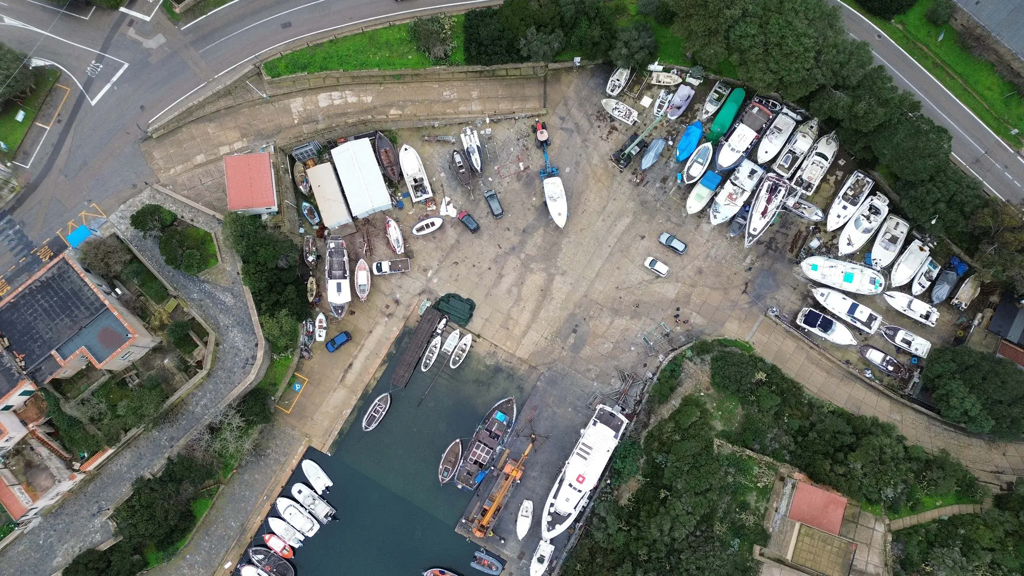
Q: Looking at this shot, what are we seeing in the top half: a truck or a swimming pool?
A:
truck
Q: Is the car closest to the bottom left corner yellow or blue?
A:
blue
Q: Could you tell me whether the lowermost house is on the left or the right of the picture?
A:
right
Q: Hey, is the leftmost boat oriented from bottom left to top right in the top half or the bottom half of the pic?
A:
bottom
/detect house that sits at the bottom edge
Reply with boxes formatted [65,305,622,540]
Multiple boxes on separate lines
[763,475,858,576]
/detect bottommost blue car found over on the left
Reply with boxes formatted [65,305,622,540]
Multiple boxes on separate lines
[325,330,354,354]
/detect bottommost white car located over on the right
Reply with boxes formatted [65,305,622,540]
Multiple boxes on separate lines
[642,255,672,280]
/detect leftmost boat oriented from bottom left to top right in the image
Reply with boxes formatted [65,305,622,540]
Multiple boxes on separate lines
[363,393,389,432]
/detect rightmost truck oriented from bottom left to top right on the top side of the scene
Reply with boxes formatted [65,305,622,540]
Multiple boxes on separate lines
[607,106,674,177]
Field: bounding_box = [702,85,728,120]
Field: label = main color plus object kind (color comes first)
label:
white boat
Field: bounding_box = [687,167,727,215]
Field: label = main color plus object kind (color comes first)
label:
white boat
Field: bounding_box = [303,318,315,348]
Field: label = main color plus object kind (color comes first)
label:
gray boat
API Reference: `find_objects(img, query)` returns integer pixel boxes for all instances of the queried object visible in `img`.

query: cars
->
[642,255,672,280]
[657,231,690,257]
[484,189,506,220]
[456,209,482,235]
[325,330,354,354]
